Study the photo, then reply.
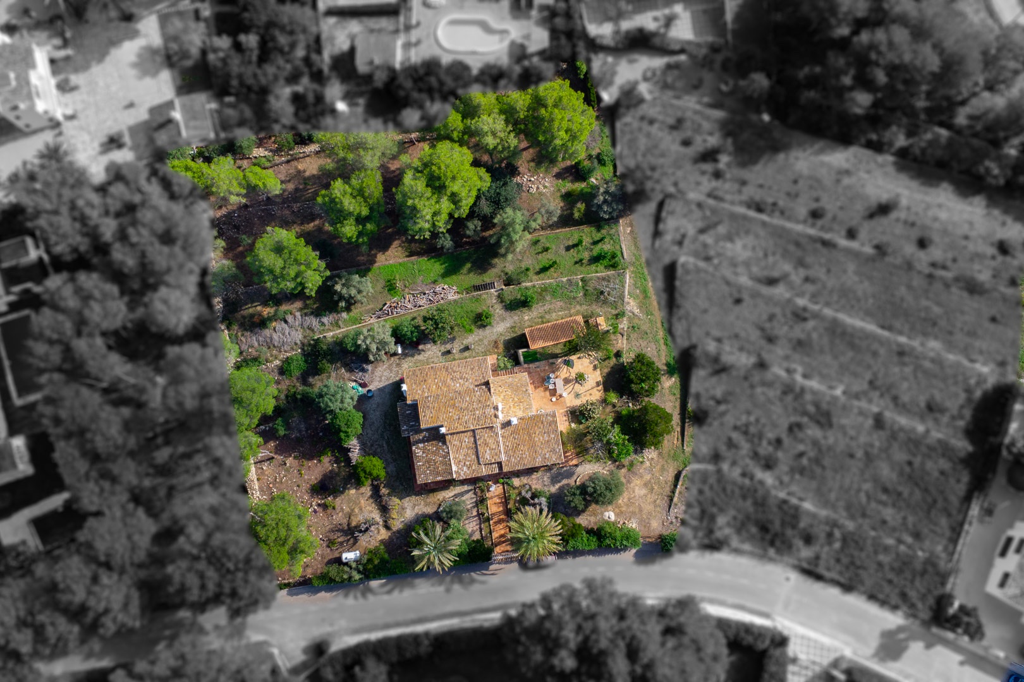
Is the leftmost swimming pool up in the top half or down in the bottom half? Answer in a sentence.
The leftmost swimming pool sits in the top half of the picture.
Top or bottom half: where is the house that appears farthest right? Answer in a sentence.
Seen from above, the house that appears farthest right lies in the bottom half of the view.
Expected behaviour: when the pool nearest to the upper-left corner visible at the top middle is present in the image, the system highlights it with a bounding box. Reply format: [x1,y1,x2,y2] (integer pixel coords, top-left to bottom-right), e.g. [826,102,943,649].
[439,10,517,55]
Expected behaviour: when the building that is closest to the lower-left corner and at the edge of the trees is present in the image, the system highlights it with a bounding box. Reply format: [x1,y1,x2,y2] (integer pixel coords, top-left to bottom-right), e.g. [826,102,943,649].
[0,489,85,550]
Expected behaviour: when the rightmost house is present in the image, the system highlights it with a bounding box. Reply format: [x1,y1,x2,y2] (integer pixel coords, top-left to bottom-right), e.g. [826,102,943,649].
[970,509,1024,610]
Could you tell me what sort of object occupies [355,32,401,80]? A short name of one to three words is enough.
building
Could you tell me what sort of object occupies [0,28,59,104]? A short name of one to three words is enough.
house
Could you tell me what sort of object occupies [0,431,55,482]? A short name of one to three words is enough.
house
